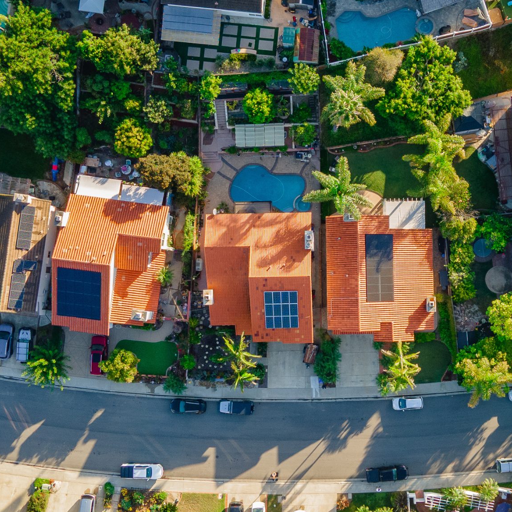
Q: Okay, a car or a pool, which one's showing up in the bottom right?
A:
car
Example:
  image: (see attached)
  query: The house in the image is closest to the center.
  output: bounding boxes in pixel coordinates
[204,208,318,344]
